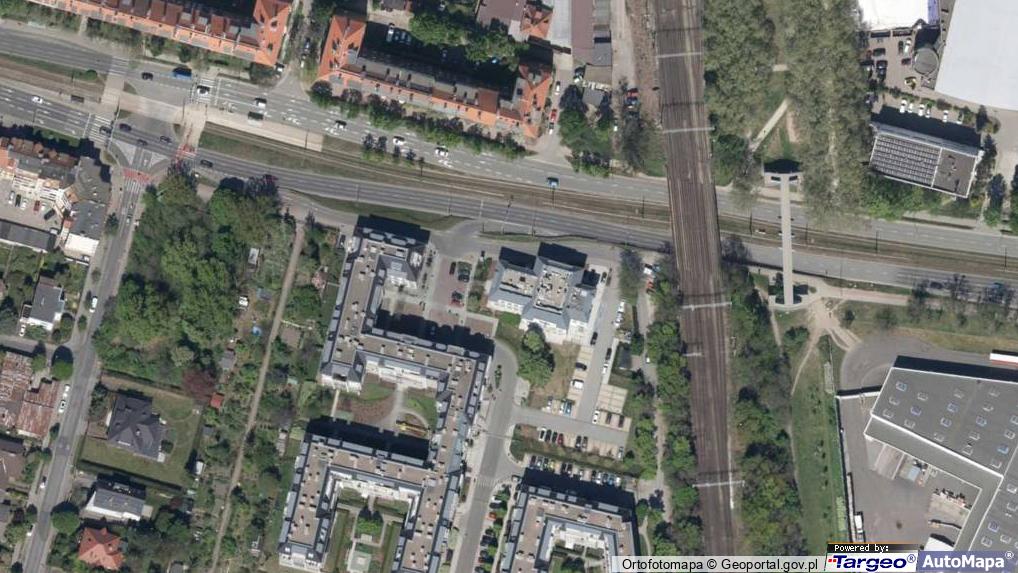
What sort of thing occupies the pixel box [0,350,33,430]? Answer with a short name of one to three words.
shed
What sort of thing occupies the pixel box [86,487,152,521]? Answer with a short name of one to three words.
house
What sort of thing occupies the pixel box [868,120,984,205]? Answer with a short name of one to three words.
building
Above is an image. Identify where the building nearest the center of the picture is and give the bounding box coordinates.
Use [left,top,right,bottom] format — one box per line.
[489,258,597,333]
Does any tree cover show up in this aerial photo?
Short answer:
Yes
